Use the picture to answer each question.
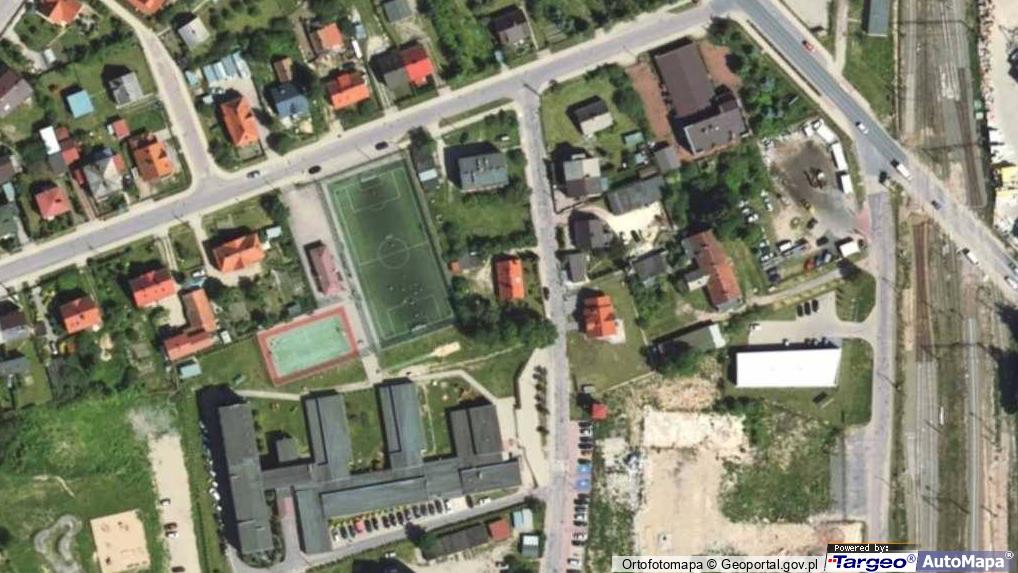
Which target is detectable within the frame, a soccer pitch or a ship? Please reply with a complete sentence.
Looking from above, you can make out a soccer pitch.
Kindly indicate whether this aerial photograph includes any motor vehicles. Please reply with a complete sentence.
Yes, there is a motor vehicle in the image.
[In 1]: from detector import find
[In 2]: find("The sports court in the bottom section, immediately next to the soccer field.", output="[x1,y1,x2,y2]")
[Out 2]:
[257,307,359,385]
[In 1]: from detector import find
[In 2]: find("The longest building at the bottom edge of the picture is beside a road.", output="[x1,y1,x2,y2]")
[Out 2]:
[219,381,522,553]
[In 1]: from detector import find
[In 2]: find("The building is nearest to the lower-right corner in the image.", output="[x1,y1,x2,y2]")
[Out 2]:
[737,349,839,388]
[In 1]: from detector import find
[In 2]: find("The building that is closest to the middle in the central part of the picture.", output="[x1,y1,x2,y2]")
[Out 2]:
[495,258,525,301]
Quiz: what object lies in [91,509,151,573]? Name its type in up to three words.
playground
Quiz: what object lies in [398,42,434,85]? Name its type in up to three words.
house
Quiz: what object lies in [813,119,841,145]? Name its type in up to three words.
truck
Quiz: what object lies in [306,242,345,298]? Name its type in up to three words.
building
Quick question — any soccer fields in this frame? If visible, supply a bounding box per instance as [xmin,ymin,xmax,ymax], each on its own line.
[328,158,453,348]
